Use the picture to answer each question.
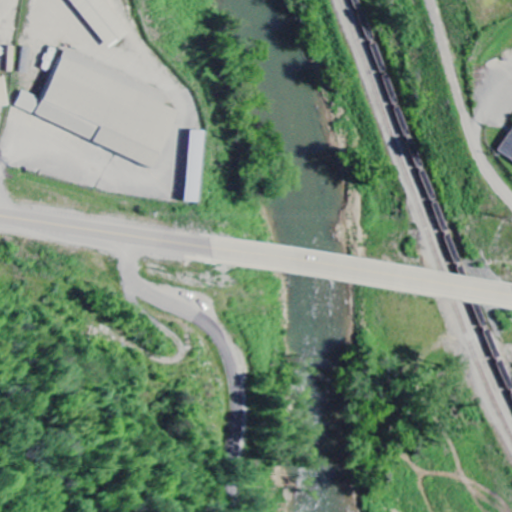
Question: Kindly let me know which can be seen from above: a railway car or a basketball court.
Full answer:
The one in the frame is a railway car.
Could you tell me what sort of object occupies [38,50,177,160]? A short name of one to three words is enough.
building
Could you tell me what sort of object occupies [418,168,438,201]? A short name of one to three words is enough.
rail car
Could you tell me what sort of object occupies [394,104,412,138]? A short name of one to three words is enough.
rail car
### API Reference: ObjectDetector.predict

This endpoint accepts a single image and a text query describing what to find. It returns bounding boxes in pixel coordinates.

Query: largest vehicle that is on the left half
[42,46,56,70]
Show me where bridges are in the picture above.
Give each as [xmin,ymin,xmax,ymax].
[208,238,512,312]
